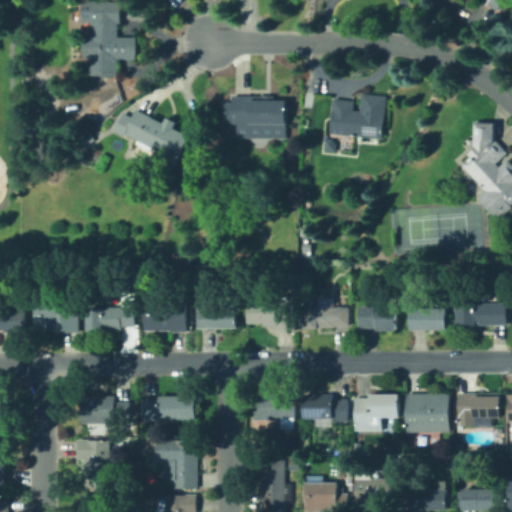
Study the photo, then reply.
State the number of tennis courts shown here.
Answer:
1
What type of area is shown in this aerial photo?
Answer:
residential area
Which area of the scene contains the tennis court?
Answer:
right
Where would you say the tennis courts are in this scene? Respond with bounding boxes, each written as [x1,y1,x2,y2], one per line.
[394,204,485,258]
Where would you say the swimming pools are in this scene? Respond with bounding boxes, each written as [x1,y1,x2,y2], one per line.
[466,432,494,445]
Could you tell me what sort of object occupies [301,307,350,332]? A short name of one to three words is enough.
house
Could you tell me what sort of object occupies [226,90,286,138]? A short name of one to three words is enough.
house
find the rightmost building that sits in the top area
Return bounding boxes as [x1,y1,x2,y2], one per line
[464,120,512,216]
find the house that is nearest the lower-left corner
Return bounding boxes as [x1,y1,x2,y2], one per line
[75,440,110,462]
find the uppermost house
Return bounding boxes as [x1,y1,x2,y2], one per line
[80,2,136,76]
